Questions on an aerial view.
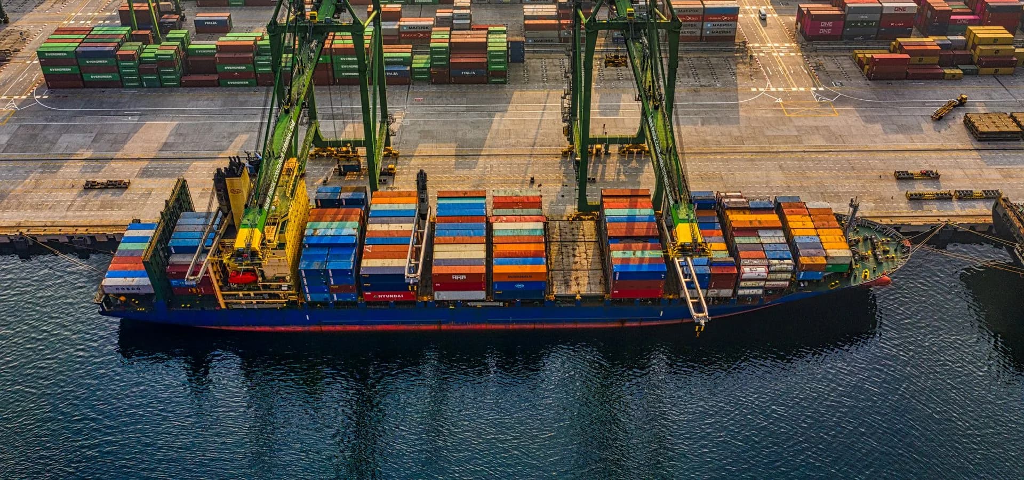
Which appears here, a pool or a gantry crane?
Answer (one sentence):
Looking from above, you can make out a gantry crane.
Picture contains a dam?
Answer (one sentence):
No, no dam is visible in the scene.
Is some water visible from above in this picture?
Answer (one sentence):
Yes, there is water in the image.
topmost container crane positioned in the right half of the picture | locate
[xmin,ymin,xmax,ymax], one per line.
[560,0,732,257]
